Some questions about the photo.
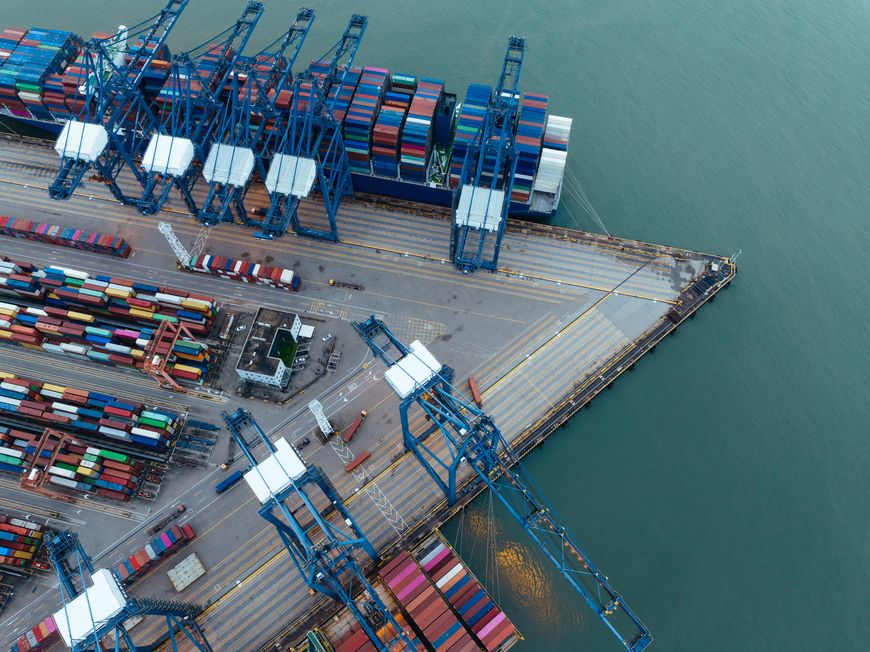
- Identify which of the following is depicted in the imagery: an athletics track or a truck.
truck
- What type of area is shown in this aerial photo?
port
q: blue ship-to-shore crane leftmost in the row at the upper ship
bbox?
[28,0,188,219]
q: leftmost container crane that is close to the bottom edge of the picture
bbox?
[29,500,206,652]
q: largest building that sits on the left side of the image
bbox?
[236,307,300,392]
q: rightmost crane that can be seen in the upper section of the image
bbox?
[443,36,527,296]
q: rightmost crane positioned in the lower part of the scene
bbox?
[342,297,655,652]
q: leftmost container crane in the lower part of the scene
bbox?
[15,426,100,502]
